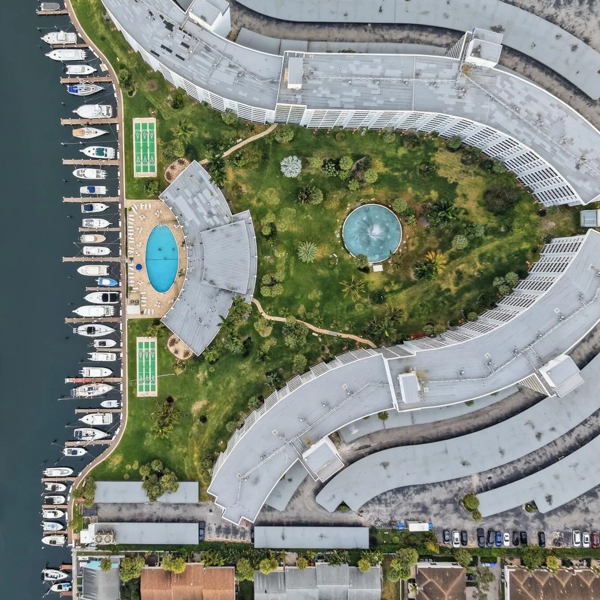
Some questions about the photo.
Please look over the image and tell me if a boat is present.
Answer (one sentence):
Yes, there's a boat here.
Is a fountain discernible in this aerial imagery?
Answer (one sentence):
Yes, a fountain is visible in the scene.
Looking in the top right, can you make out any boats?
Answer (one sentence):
No, looking in the top right, there is no boat.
